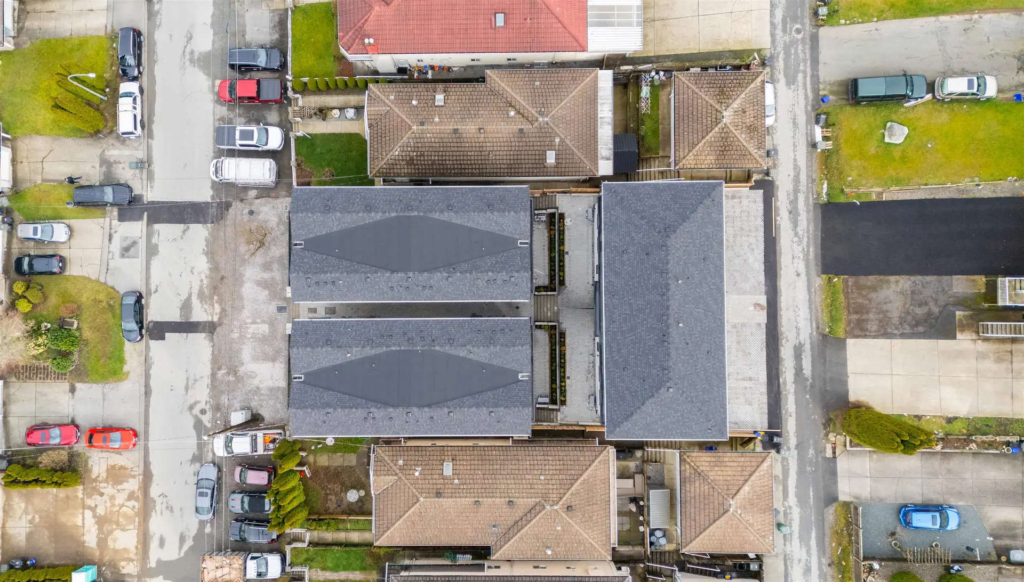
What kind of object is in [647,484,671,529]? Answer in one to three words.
shed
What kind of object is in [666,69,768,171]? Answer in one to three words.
building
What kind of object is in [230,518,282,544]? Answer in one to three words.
car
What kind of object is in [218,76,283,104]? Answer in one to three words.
truck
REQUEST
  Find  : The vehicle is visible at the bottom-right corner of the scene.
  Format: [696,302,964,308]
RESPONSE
[897,503,959,533]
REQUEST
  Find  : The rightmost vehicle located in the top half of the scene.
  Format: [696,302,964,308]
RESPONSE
[931,72,996,101]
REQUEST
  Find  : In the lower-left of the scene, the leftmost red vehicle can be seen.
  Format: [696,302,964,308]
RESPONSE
[25,424,81,449]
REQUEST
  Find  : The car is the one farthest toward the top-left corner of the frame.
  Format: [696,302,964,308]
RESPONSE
[116,25,145,80]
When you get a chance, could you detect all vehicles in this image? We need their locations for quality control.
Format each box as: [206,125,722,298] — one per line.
[846,70,926,103]
[193,462,221,520]
[215,432,285,459]
[231,491,278,516]
[16,253,67,276]
[235,464,277,487]
[227,45,285,72]
[116,25,145,80]
[113,82,145,137]
[119,290,147,342]
[212,157,277,184]
[17,220,72,245]
[931,72,996,101]
[71,181,135,207]
[216,123,284,150]
[230,518,282,544]
[897,503,959,533]
[767,75,781,132]
[85,427,139,452]
[218,76,283,104]
[25,424,81,449]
